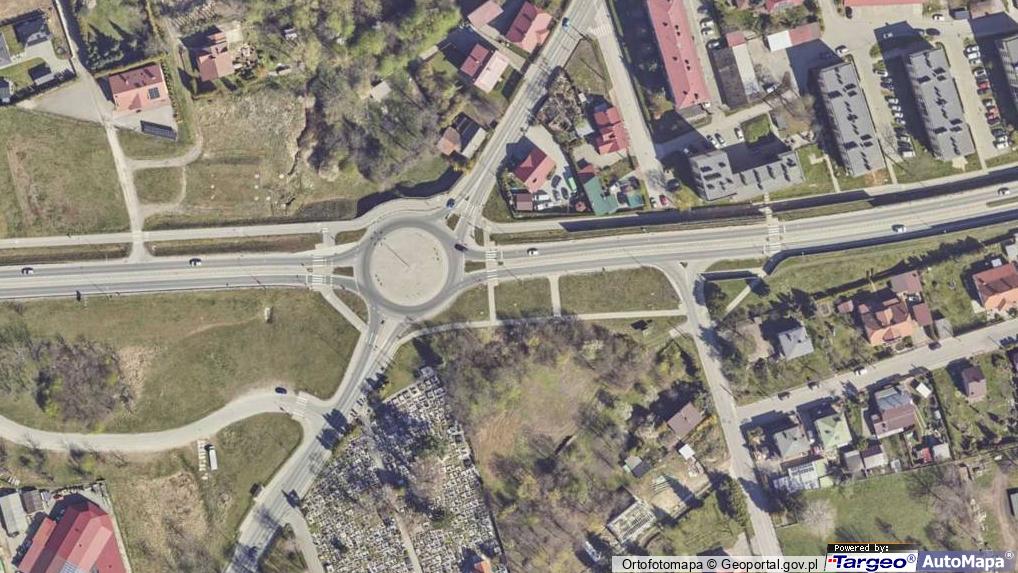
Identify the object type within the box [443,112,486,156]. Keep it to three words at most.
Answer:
house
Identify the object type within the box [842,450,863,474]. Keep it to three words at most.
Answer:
shed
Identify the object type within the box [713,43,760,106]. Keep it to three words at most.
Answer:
barn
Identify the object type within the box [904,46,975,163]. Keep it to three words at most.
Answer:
building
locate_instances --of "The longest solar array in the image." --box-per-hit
[141,120,176,140]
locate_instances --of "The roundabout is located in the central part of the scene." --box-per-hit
[355,213,461,319]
